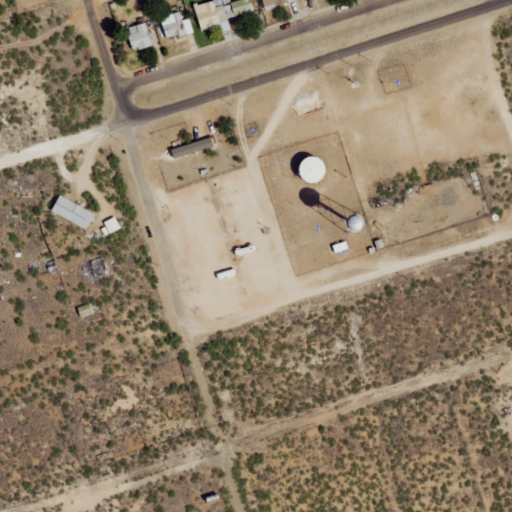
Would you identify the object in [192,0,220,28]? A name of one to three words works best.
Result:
house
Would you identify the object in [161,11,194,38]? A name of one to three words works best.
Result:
house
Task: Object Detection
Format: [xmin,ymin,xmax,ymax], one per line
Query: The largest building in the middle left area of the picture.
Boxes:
[50,194,94,230]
